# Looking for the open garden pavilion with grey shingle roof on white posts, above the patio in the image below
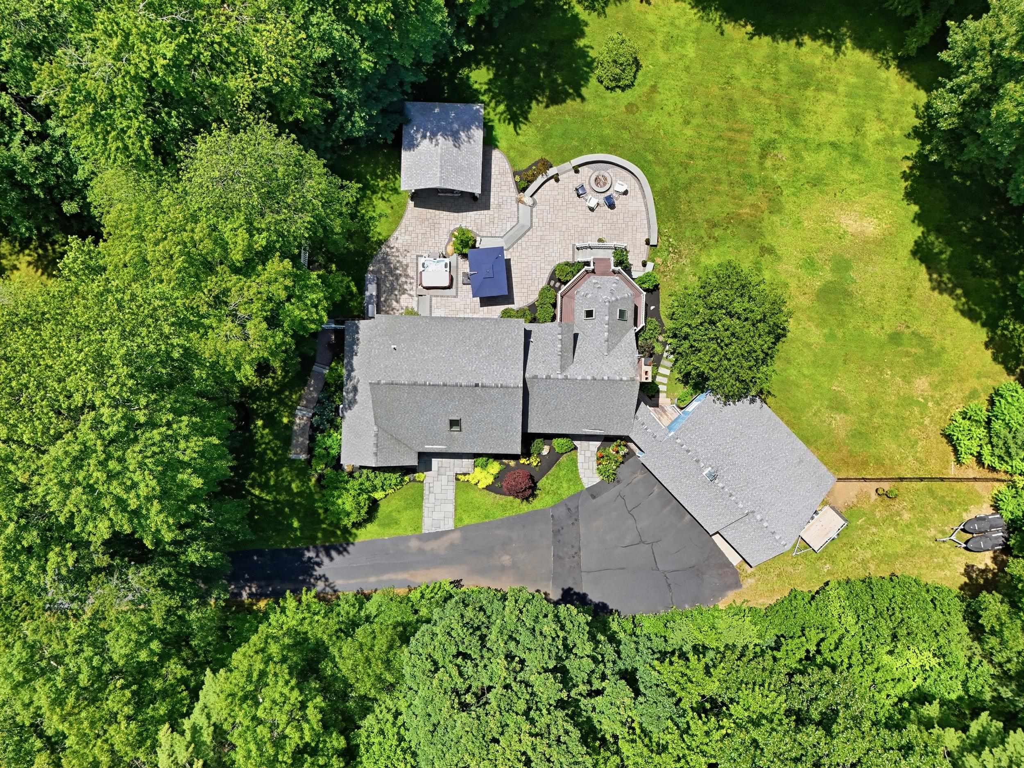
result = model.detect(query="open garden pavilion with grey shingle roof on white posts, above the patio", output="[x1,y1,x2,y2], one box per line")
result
[401,102,485,199]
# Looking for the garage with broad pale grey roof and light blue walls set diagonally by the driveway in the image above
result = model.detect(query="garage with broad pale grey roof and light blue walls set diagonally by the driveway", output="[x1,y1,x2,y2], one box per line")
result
[628,370,836,568]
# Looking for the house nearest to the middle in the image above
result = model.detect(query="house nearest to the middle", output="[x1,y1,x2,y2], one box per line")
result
[339,276,652,466]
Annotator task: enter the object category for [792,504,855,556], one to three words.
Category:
trailer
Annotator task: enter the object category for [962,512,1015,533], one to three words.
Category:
boat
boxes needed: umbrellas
[461,247,508,298]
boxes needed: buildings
[401,102,485,199]
[339,276,652,466]
[628,370,836,568]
